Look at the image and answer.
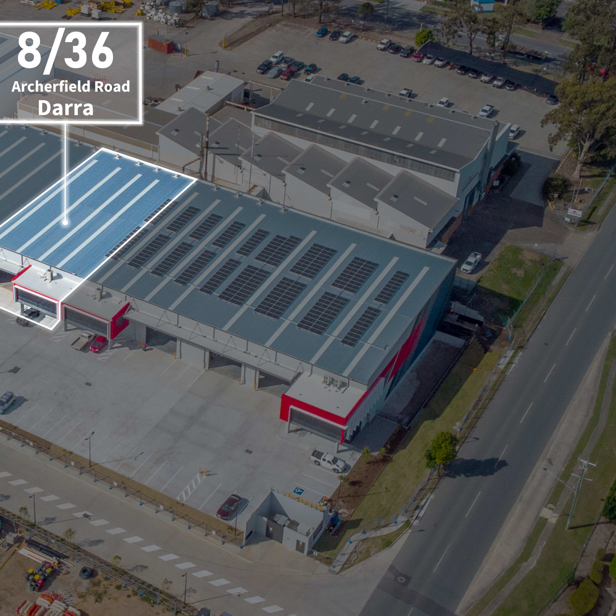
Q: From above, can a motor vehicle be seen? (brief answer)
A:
Yes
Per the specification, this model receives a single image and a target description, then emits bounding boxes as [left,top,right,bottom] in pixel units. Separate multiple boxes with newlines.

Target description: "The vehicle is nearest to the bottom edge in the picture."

[215,492,241,520]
